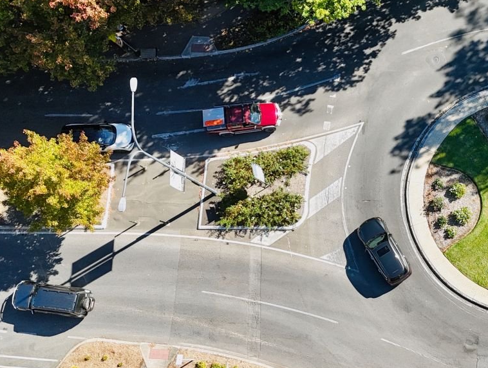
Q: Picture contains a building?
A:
No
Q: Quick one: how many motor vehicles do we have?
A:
4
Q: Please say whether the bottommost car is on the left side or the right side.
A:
left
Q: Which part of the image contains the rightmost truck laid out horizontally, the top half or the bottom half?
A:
top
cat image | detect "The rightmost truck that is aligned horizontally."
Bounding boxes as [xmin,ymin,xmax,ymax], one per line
[201,101,281,138]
